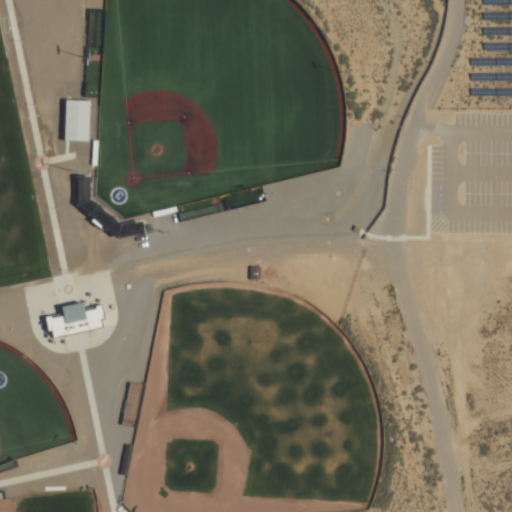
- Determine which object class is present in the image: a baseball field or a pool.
baseball field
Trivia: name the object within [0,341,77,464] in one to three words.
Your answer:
baseball field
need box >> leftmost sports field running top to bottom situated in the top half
[0,31,52,286]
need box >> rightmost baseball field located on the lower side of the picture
[120,282,383,512]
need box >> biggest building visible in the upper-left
[64,100,91,142]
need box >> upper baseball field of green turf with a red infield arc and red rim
[97,0,346,218]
